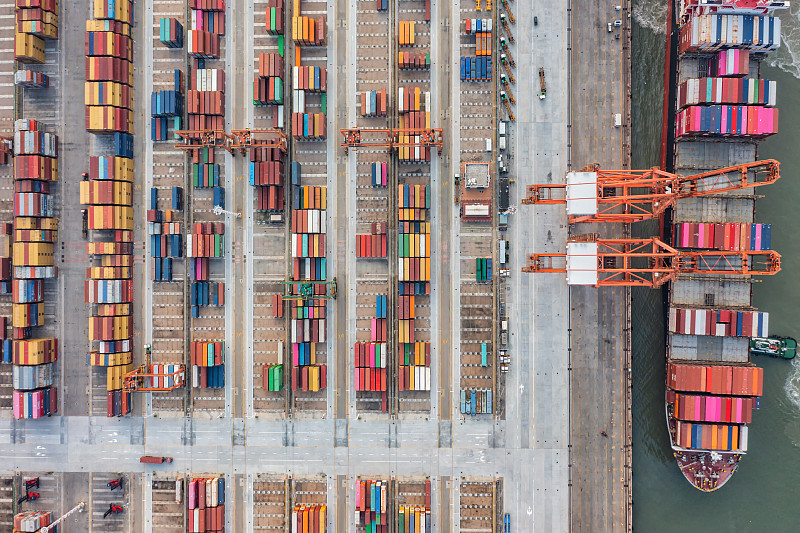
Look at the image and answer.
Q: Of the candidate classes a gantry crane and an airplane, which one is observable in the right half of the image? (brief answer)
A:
gantry crane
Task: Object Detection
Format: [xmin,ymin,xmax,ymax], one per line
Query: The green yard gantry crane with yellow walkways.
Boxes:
[280,279,338,301]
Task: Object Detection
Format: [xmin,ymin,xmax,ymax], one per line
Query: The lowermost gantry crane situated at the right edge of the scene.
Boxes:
[525,235,786,291]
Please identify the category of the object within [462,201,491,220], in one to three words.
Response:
building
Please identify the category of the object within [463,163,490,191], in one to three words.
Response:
building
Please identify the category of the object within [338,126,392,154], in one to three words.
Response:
container crane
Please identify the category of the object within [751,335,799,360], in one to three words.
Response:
boat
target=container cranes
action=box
[525,235,786,291]
[390,126,445,155]
[121,364,187,391]
[230,127,287,155]
[173,128,234,156]
[338,126,392,154]
[280,279,338,301]
[525,158,786,229]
